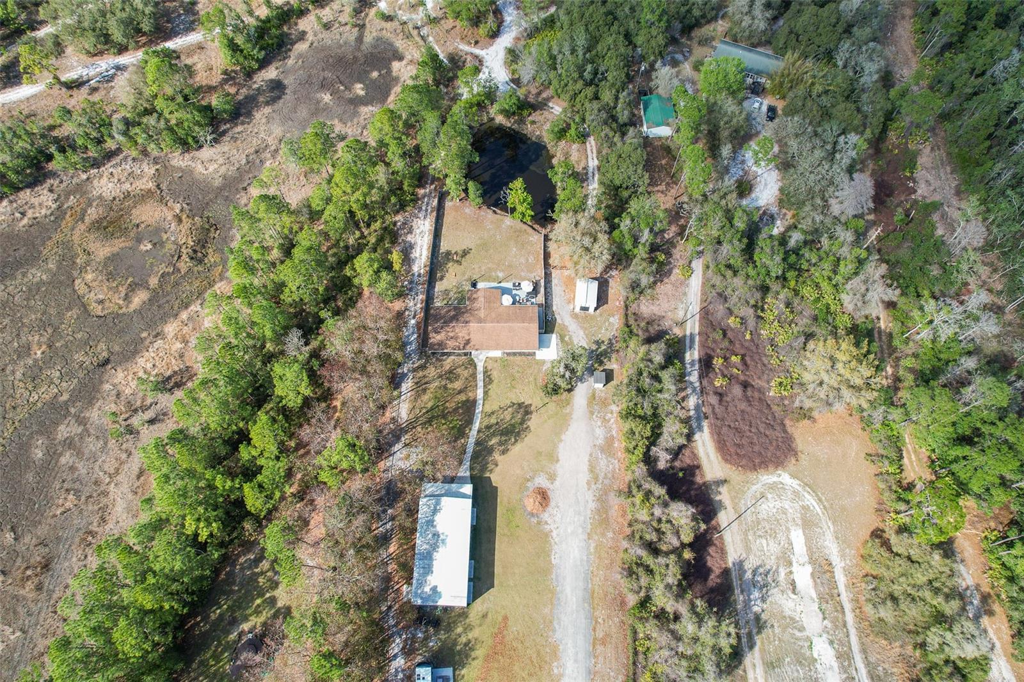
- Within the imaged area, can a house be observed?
Yes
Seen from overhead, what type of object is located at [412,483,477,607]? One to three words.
building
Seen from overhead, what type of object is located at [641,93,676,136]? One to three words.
building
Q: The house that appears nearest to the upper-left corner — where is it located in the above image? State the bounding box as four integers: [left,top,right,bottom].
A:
[428,286,539,357]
